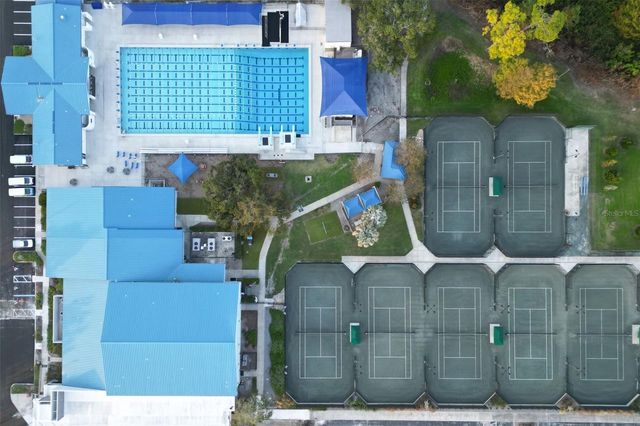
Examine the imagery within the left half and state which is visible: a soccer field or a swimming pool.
swimming pool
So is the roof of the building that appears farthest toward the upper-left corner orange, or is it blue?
blue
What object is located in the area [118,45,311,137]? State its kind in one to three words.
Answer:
swimming pool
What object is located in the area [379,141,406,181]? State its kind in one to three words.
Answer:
building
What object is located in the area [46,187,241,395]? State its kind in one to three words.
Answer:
building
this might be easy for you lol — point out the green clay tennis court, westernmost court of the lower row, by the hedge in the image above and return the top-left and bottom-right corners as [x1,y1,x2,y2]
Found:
[286,265,355,404]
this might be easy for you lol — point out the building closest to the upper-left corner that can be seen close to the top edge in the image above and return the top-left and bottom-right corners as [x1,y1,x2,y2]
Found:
[1,0,94,166]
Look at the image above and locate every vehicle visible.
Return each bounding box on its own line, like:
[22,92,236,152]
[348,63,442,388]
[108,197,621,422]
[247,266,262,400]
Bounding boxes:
[8,187,34,197]
[14,239,35,248]
[9,154,32,164]
[8,176,33,186]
